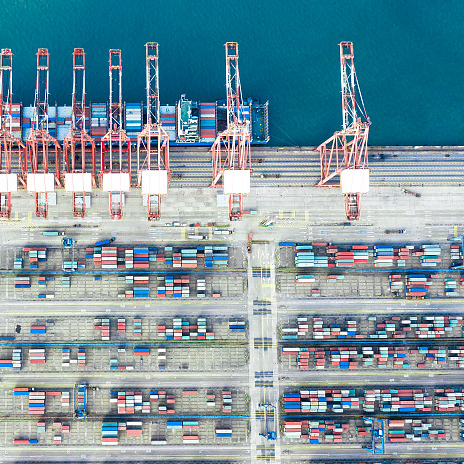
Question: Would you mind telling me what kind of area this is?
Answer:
port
